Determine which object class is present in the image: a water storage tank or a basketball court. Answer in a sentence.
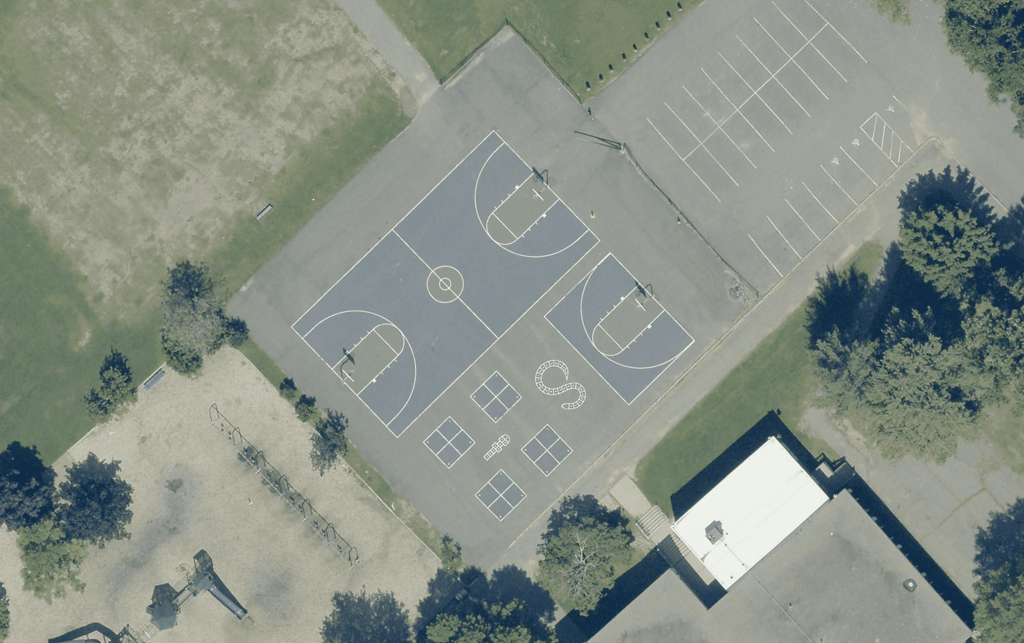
It is a basketball court that can be seen here.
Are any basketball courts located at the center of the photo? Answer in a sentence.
Yes, a basketball court is visible at the center of the photo.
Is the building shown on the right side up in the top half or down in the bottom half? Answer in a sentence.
The building shown on the right side is in the bottom half of the image.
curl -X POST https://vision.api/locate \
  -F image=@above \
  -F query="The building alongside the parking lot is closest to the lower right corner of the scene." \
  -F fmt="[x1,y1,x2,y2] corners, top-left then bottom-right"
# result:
[587,427,975,643]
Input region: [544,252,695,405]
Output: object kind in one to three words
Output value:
basketball court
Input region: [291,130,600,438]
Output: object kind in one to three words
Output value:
basketball court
